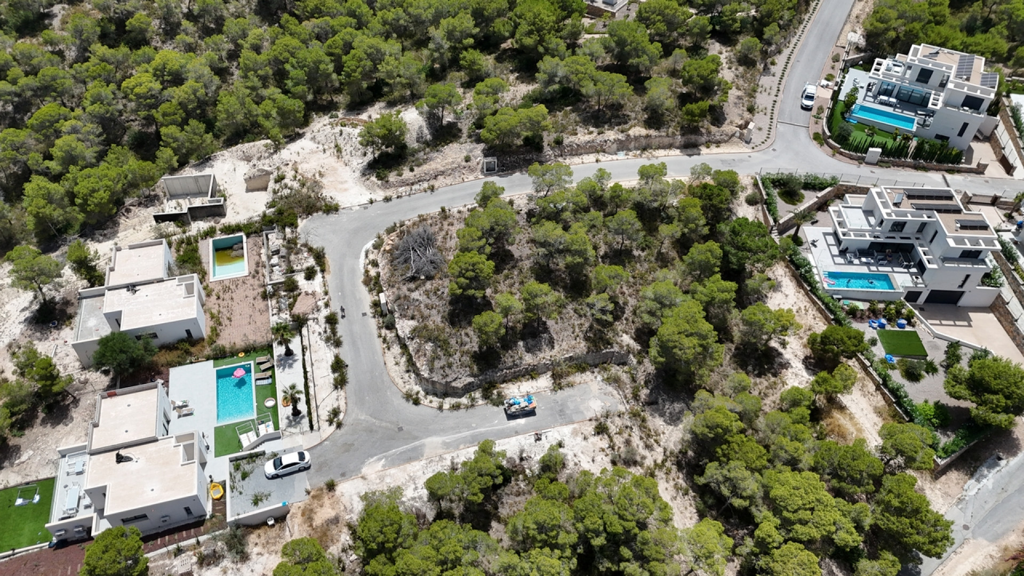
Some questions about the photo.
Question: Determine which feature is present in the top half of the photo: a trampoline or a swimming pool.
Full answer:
There is a swimming pool in the top half of the photo.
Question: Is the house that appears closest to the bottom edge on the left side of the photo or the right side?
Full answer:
The house that appears closest to the bottom edge appears in the left half of the scene.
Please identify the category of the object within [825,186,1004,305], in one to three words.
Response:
house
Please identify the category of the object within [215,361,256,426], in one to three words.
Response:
swimming pool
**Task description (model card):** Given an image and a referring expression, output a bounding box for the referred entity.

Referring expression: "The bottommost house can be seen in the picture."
[44,380,211,555]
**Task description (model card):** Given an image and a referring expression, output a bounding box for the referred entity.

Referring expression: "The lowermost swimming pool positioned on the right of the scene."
[818,268,903,304]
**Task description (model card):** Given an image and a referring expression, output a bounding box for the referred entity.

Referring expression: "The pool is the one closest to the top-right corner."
[848,102,918,141]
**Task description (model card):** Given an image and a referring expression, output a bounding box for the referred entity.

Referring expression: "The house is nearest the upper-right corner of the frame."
[865,43,1002,152]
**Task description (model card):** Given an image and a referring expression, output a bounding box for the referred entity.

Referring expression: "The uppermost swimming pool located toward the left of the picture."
[209,232,248,281]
